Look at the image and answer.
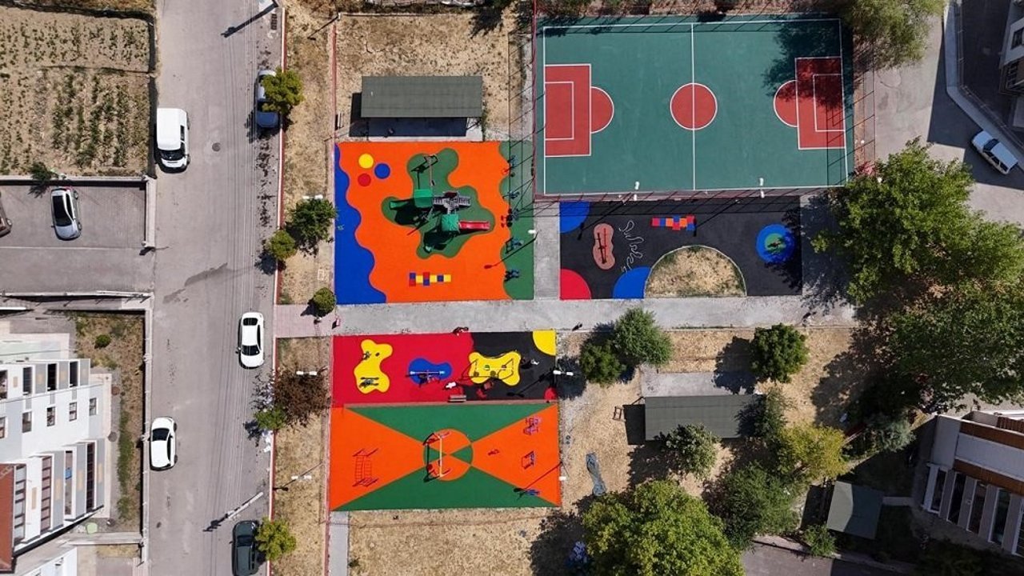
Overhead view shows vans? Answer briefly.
Yes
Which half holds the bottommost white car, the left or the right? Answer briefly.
left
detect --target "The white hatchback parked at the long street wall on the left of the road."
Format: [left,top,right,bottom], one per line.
[149,415,179,466]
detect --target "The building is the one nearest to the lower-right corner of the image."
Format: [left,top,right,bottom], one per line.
[918,413,1024,558]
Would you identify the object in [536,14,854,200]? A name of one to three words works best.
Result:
sports court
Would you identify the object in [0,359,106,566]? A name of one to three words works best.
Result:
building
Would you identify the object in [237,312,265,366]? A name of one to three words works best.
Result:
car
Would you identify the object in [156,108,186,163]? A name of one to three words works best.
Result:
van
